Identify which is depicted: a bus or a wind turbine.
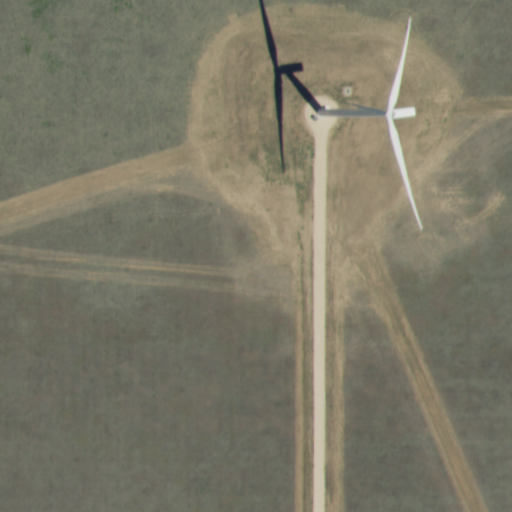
wind turbine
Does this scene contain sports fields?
No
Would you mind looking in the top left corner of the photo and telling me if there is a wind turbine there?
No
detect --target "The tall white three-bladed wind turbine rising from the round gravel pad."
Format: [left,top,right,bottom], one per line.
[316,16,422,229]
